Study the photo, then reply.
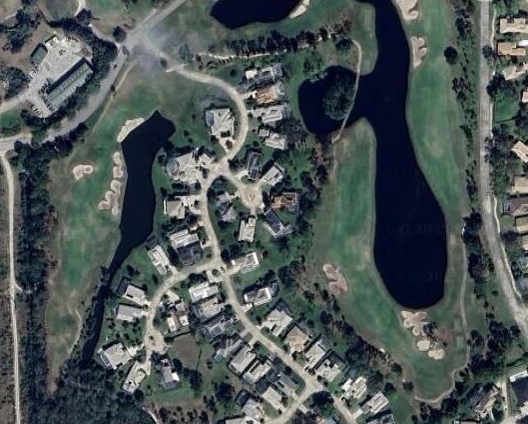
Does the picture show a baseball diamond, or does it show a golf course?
golf course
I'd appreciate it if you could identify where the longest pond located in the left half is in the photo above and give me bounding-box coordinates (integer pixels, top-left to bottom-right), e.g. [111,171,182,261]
[83,109,175,361]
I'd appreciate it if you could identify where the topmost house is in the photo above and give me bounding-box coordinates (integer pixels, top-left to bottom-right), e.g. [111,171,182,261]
[498,14,528,32]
